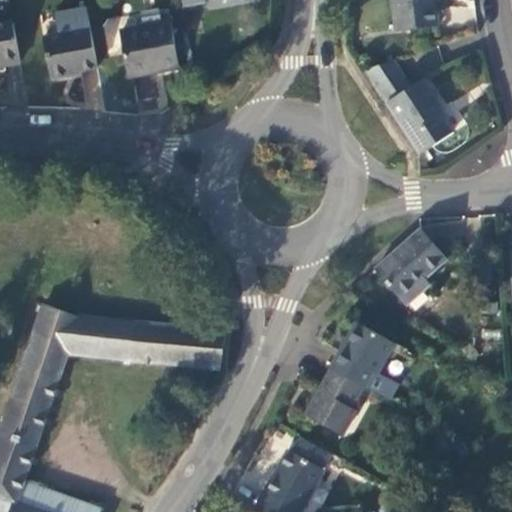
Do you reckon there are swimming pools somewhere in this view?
No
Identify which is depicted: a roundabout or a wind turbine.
roundabout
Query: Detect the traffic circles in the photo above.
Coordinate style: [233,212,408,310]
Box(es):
[199,97,369,267]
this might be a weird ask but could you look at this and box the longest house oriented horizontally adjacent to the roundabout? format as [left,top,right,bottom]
[53,312,224,372]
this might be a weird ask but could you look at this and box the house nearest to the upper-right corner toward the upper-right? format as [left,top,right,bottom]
[390,0,441,30]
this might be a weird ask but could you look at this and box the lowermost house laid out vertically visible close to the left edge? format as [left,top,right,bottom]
[0,302,79,508]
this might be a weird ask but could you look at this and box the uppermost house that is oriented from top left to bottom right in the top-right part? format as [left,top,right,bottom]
[368,52,453,158]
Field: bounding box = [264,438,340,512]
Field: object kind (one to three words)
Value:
house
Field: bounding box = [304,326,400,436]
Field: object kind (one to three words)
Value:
house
